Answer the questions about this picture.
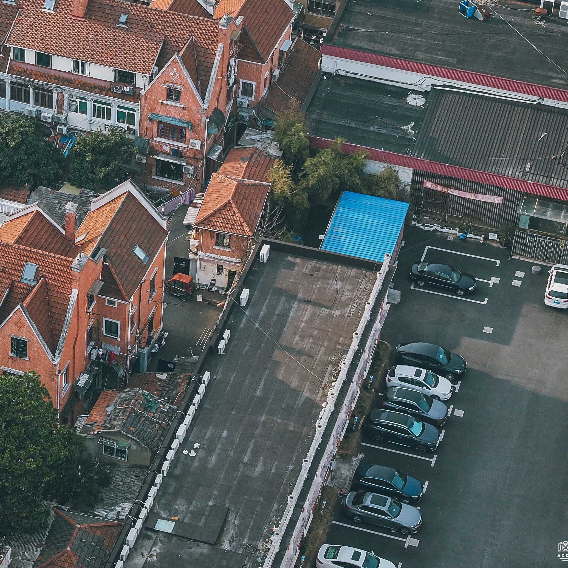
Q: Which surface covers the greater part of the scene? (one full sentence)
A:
The scene is dominated by buildings.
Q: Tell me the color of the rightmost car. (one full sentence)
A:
In this view, the rightmost car is white.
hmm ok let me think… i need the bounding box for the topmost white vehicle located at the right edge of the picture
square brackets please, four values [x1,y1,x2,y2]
[543,266,568,311]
